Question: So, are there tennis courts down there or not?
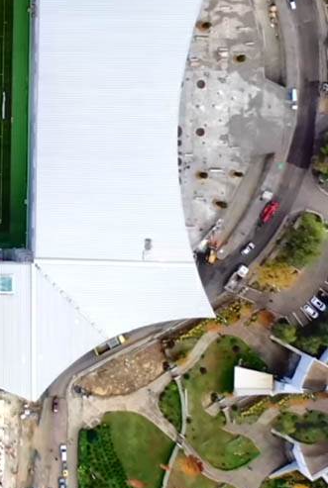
No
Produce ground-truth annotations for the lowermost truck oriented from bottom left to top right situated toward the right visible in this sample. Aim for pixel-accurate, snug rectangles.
[224,264,253,293]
